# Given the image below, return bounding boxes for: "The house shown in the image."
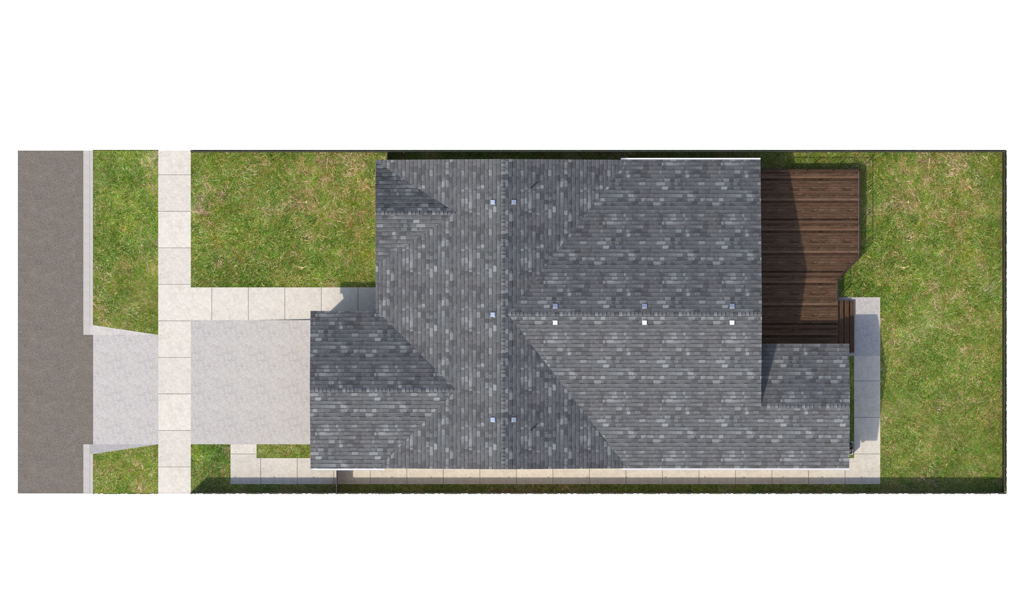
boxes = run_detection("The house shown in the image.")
[310,158,850,470]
